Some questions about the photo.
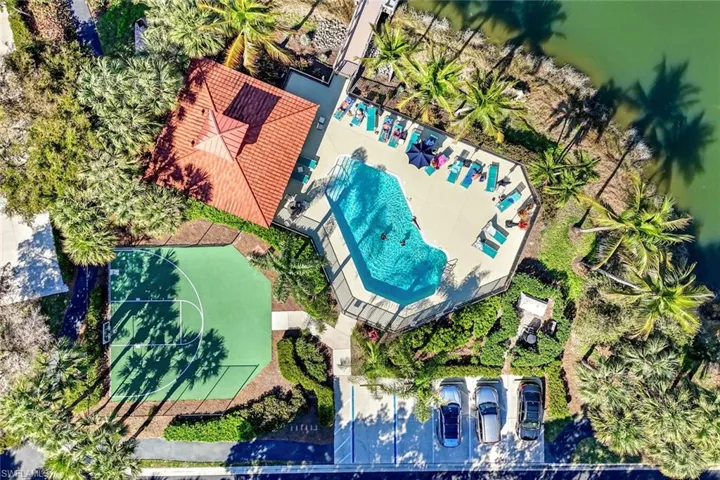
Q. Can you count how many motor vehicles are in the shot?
3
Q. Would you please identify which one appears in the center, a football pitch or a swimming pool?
swimming pool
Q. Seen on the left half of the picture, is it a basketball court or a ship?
basketball court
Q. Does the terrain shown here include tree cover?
Yes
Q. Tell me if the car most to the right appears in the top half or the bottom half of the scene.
bottom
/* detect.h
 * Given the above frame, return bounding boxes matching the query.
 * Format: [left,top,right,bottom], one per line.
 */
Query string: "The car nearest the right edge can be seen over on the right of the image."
[514,378,547,440]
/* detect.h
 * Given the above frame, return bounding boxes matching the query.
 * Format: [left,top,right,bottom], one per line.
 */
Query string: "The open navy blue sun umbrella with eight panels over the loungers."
[406,139,436,170]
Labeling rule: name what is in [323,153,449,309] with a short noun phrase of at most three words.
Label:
swimming pool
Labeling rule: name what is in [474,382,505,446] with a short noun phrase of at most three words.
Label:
car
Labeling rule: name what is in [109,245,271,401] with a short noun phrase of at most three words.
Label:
basketball court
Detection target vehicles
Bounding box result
[474,382,505,446]
[514,378,547,440]
[436,382,466,448]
